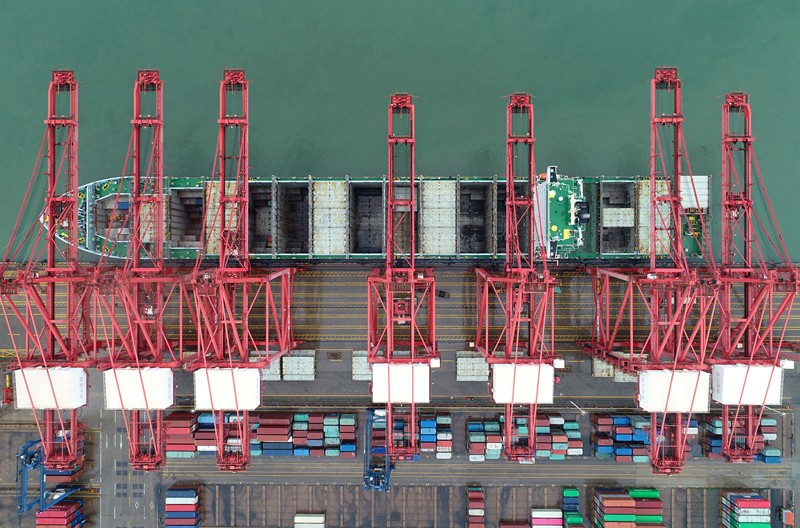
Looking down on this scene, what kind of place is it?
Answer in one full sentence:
It's a port.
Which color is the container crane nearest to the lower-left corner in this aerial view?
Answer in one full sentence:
The color of the container crane nearest to the lower-left corner is blue.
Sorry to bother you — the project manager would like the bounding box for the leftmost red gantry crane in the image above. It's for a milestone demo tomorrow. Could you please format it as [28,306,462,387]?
[0,69,152,470]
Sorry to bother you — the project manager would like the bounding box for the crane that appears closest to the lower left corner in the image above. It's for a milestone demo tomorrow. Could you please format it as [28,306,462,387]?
[15,437,84,514]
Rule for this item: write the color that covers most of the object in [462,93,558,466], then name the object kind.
red container crane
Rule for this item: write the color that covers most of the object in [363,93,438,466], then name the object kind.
red container crane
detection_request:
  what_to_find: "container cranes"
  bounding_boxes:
[462,93,558,466]
[577,67,725,470]
[648,93,800,466]
[363,93,438,466]
[92,69,220,470]
[15,437,84,514]
[362,408,395,492]
[192,69,305,470]
[0,69,152,470]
